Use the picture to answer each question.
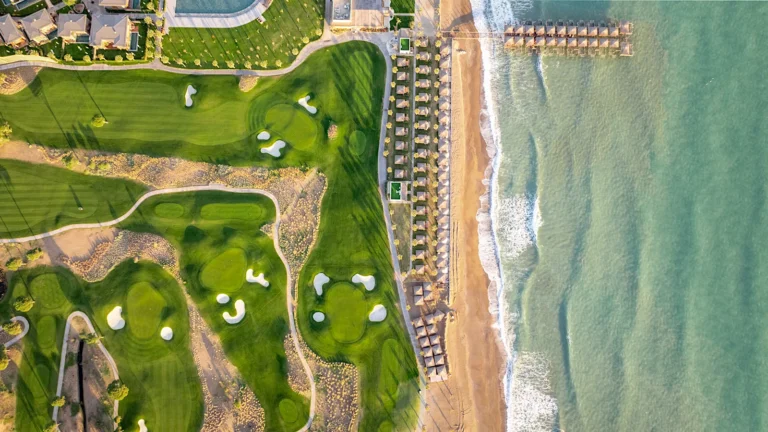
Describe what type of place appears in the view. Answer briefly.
golf course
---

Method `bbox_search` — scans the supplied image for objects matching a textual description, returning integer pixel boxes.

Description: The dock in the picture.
[439,19,634,56]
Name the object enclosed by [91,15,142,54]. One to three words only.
house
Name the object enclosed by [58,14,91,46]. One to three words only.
house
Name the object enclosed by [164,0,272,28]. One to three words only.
swimming pool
